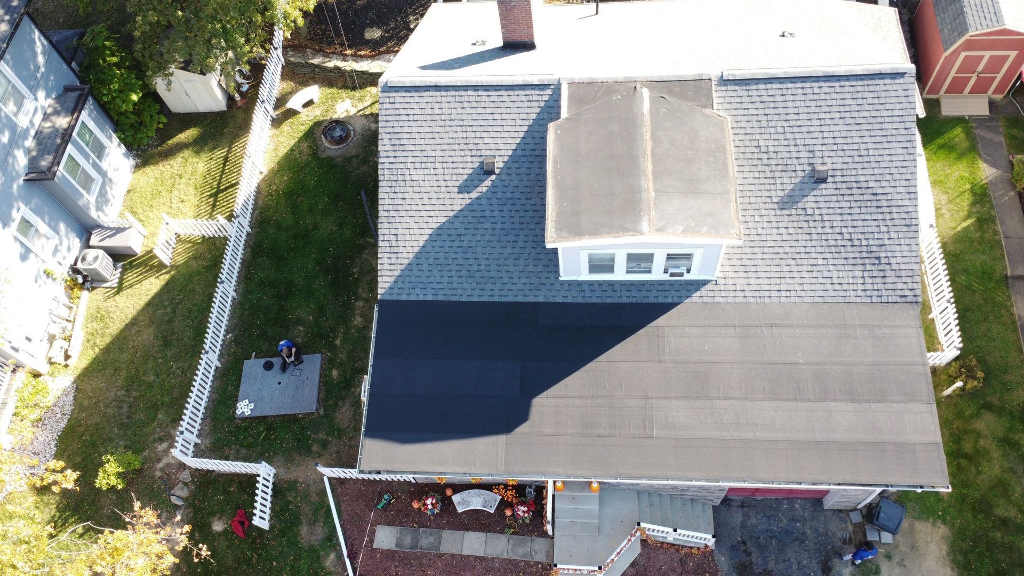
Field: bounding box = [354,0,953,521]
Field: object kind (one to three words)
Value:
house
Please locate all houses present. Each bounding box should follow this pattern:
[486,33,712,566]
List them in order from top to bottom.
[354,0,953,521]
[0,1,136,371]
